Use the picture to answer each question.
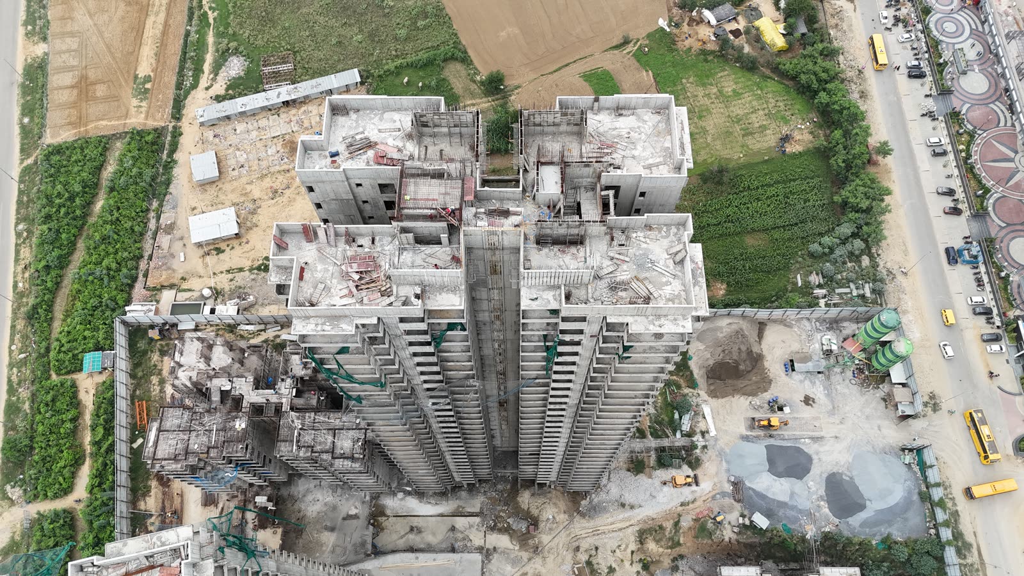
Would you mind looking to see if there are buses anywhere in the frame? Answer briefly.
Yes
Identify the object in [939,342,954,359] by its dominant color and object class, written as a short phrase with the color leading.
white car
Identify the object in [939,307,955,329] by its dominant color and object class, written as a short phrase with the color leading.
yellow vehicle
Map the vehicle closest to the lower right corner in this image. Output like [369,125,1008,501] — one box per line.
[958,476,1024,503]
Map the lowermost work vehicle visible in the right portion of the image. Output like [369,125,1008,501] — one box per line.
[707,511,729,527]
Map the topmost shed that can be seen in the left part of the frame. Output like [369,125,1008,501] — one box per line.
[197,69,362,130]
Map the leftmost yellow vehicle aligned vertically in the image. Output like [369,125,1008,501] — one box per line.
[869,36,889,68]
